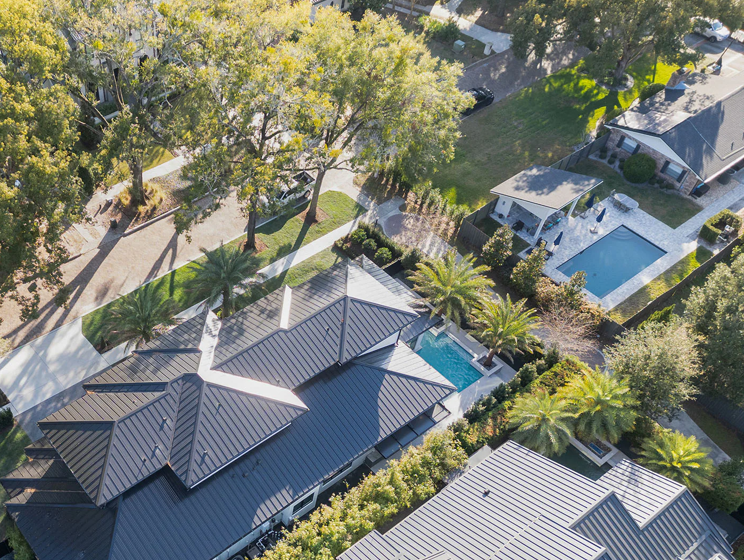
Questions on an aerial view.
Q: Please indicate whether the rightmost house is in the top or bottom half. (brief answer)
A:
top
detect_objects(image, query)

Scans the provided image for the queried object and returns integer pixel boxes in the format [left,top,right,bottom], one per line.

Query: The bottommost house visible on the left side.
[0,255,478,560]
